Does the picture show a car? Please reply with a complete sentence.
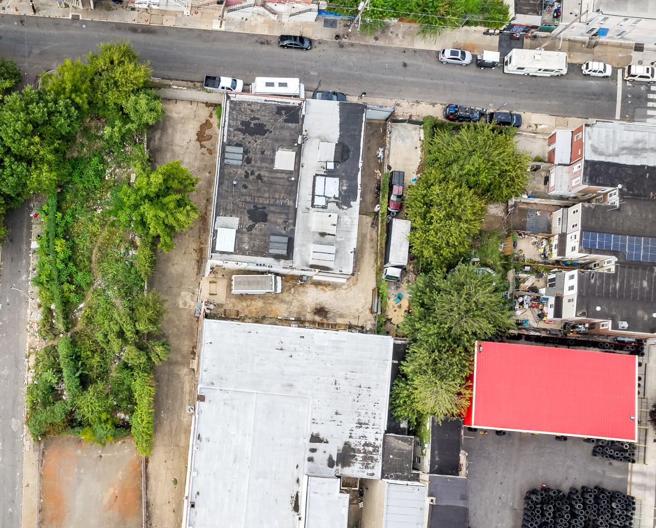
Yes, a car can be made out from above.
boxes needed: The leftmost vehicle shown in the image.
[204,74,242,93]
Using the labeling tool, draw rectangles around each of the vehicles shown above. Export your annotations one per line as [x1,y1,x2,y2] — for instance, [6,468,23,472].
[204,74,242,93]
[504,49,571,77]
[622,65,656,83]
[246,74,301,99]
[278,34,310,52]
[442,104,478,122]
[438,49,470,65]
[312,90,346,103]
[580,61,609,78]
[382,215,411,281]
[227,274,278,294]
[388,169,406,215]
[486,111,521,126]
